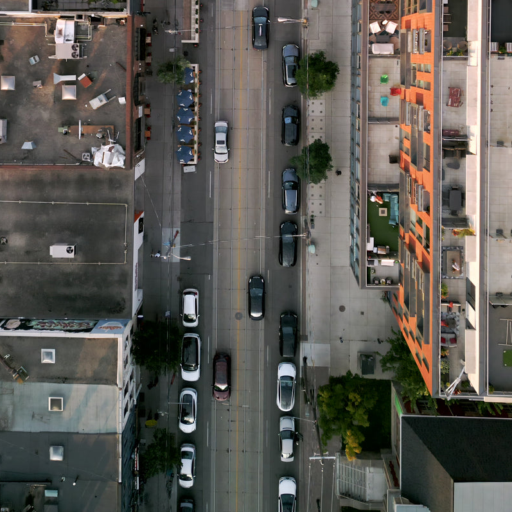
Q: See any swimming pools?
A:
No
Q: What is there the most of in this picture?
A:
buildings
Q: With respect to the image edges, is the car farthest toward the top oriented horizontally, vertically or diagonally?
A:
vertically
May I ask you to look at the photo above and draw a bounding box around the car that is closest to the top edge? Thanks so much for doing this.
[250,6,271,49]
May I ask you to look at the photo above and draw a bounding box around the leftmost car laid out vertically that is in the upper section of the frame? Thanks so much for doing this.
[211,119,231,162]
